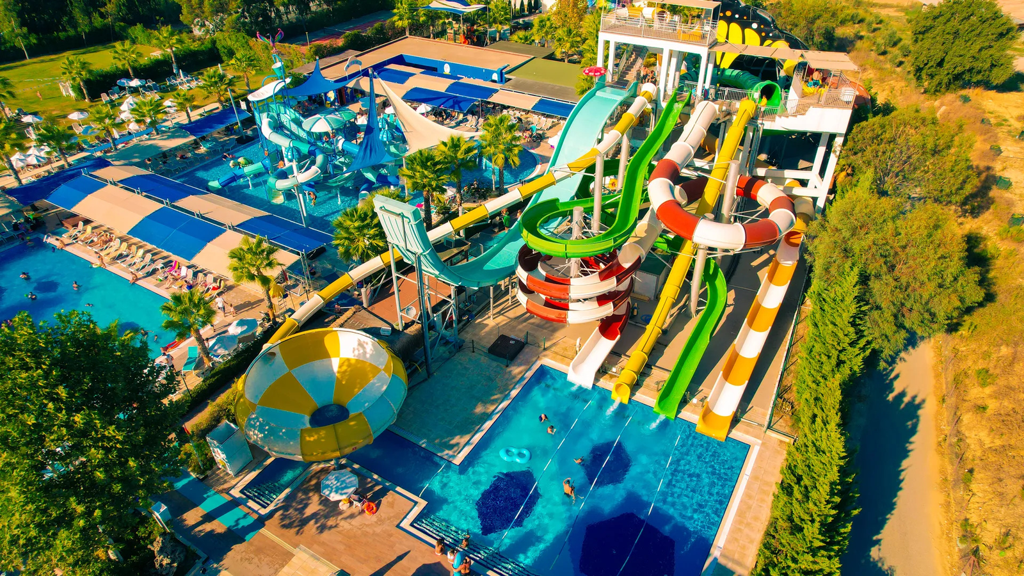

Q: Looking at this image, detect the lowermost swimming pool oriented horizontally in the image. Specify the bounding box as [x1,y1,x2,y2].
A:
[241,363,750,576]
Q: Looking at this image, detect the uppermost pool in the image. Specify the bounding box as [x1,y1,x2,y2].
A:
[181,118,543,226]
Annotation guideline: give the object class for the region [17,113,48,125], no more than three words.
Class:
umbrella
